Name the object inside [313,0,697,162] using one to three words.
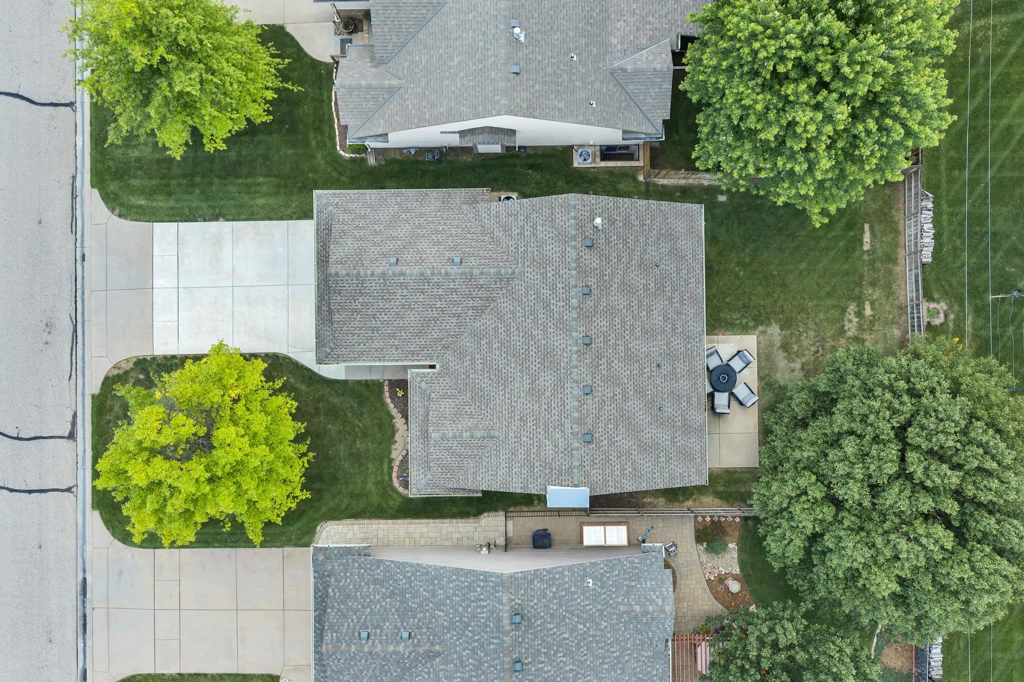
house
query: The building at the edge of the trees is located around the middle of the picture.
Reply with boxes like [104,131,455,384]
[314,187,708,509]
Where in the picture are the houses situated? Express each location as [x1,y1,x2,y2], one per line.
[311,543,674,682]
[314,187,708,509]
[313,0,697,162]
